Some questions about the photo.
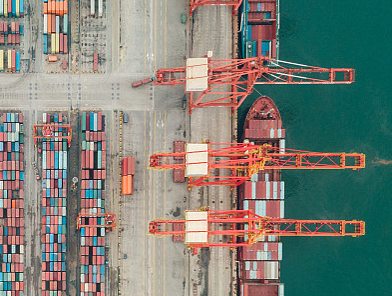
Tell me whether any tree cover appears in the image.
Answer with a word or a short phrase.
No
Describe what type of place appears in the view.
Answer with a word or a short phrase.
port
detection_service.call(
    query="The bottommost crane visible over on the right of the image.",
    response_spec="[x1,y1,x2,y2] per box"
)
[147,206,366,250]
